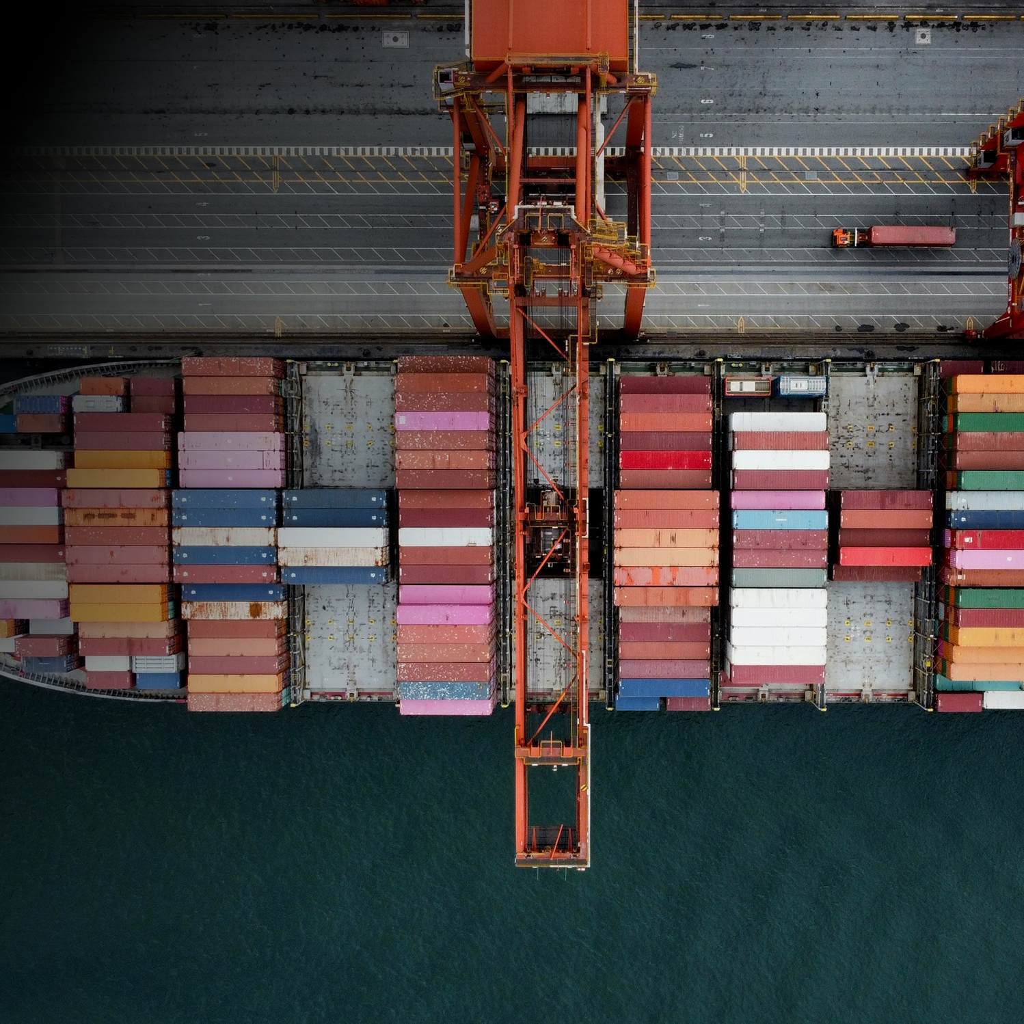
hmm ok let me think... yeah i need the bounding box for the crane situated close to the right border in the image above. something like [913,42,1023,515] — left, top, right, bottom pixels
[961,91,1024,344]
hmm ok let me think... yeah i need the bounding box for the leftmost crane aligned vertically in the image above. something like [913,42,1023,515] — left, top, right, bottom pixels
[432,0,657,881]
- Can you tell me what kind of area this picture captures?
port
